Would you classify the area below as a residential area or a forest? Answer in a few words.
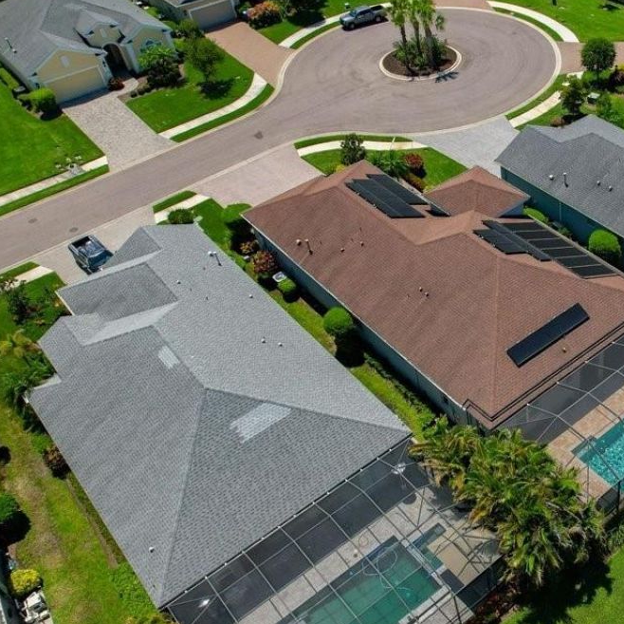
residential area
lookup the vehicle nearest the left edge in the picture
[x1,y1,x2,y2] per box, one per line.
[62,225,116,272]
